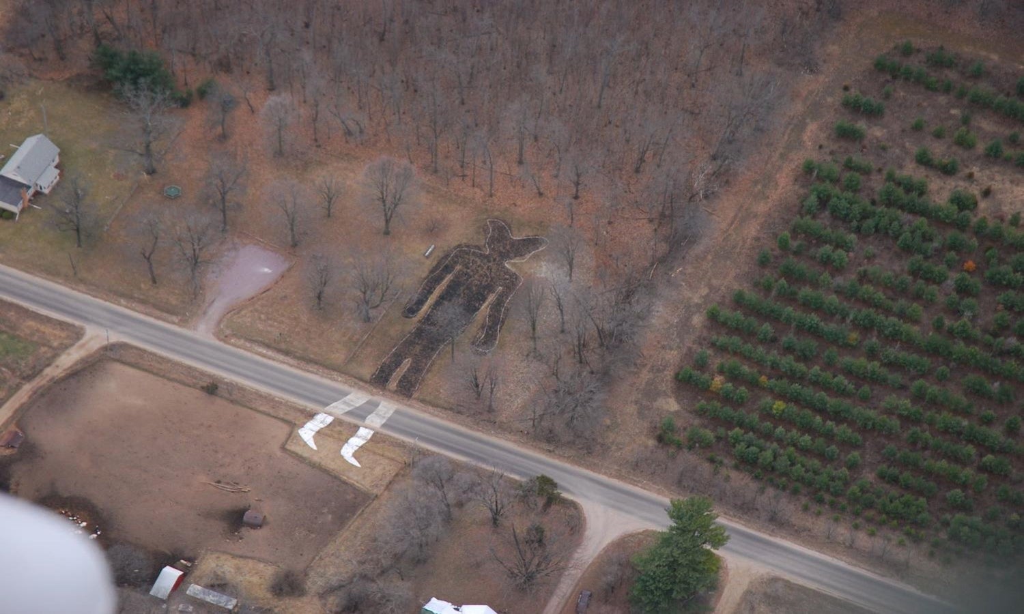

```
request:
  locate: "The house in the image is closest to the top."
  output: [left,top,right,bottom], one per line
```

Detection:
[0,137,63,223]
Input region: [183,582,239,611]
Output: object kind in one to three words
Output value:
shed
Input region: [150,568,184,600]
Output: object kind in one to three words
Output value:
shed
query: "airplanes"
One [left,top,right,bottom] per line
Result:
[0,489,121,614]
